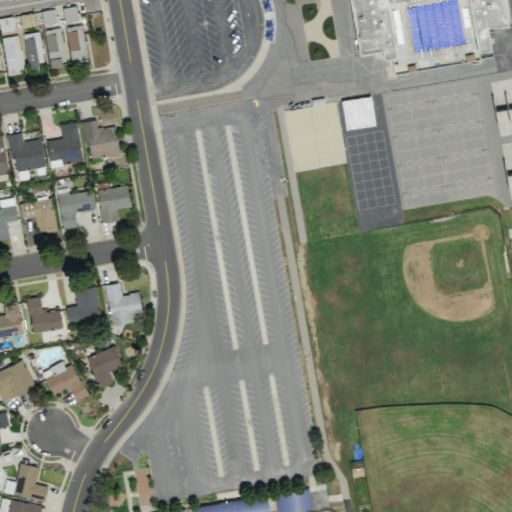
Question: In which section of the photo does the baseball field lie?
right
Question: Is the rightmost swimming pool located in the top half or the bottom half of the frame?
bottom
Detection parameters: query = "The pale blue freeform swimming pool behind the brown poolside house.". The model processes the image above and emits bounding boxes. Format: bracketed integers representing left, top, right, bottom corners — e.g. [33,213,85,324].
[36,346,64,368]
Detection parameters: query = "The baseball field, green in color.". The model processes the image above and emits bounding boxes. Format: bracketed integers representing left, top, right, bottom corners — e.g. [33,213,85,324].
[388,208,511,350]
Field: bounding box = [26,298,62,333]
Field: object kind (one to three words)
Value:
house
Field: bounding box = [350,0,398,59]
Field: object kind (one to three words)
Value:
building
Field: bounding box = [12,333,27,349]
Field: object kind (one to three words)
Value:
swimming pool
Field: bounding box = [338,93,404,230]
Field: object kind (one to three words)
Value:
sports court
